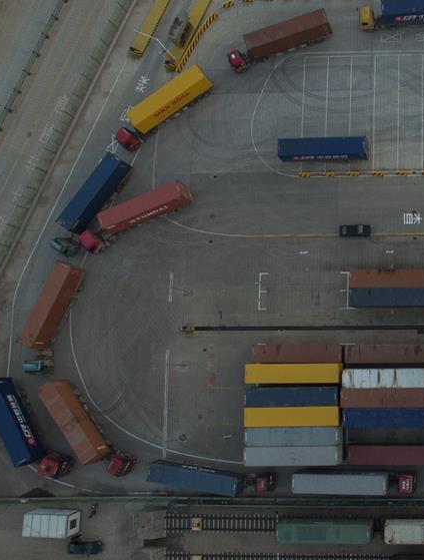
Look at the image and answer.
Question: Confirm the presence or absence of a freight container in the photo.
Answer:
Yes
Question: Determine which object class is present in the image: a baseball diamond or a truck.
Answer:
truck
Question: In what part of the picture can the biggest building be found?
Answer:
bottom left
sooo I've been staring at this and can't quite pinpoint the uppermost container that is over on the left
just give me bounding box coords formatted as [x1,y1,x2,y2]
[126,63,211,134]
